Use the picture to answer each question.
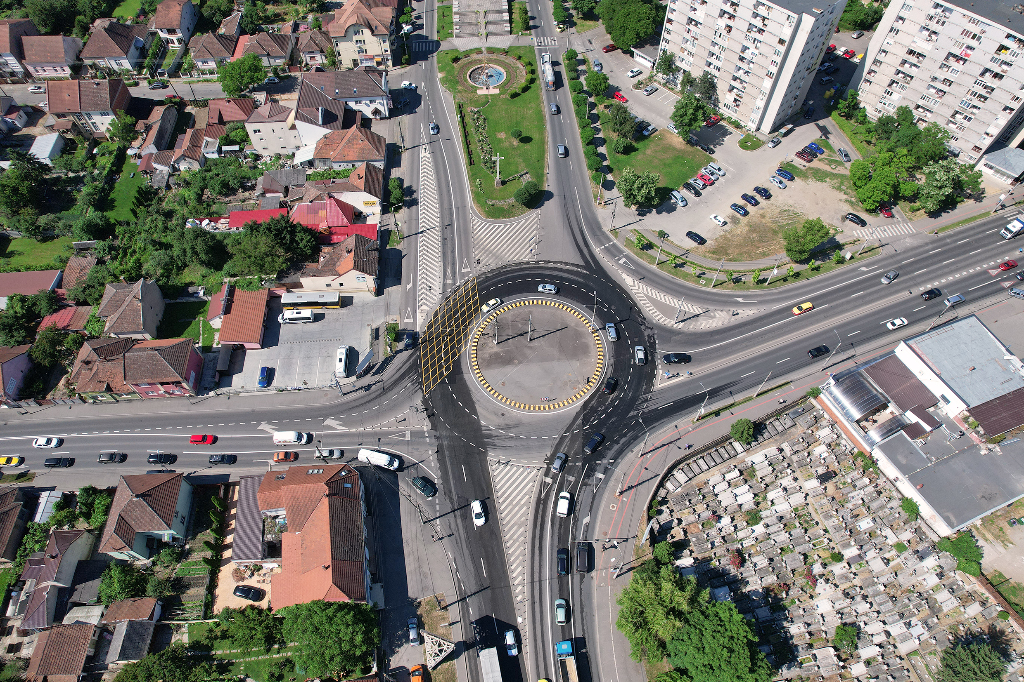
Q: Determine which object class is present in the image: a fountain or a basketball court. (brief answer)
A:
fountain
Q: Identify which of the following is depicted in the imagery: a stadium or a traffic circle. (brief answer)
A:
traffic circle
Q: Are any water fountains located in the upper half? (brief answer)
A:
Yes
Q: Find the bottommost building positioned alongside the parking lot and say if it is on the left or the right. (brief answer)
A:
right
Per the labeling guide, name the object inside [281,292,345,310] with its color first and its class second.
white vehicle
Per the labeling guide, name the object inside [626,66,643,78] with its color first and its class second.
white vehicle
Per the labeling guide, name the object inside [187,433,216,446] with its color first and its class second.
red vehicle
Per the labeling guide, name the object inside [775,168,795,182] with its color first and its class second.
blue car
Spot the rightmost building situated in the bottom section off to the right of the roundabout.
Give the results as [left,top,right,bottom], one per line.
[819,313,1024,542]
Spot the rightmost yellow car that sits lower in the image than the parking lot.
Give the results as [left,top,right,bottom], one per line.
[792,301,814,315]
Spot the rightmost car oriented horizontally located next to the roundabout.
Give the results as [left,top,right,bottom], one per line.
[664,352,690,365]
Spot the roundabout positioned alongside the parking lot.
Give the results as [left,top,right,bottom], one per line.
[418,256,664,462]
